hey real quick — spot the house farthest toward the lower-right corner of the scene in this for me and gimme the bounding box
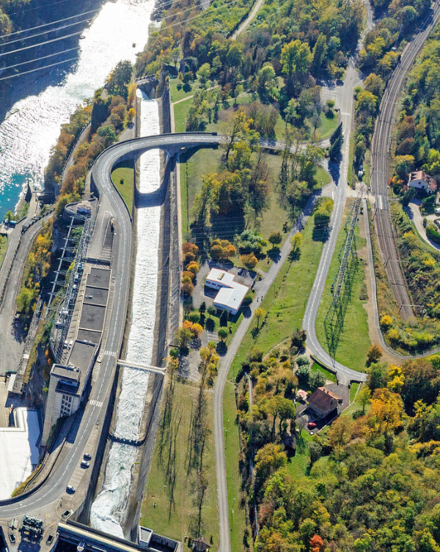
[306,389,341,420]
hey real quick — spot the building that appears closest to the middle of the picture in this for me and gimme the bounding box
[205,268,250,314]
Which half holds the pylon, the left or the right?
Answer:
right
